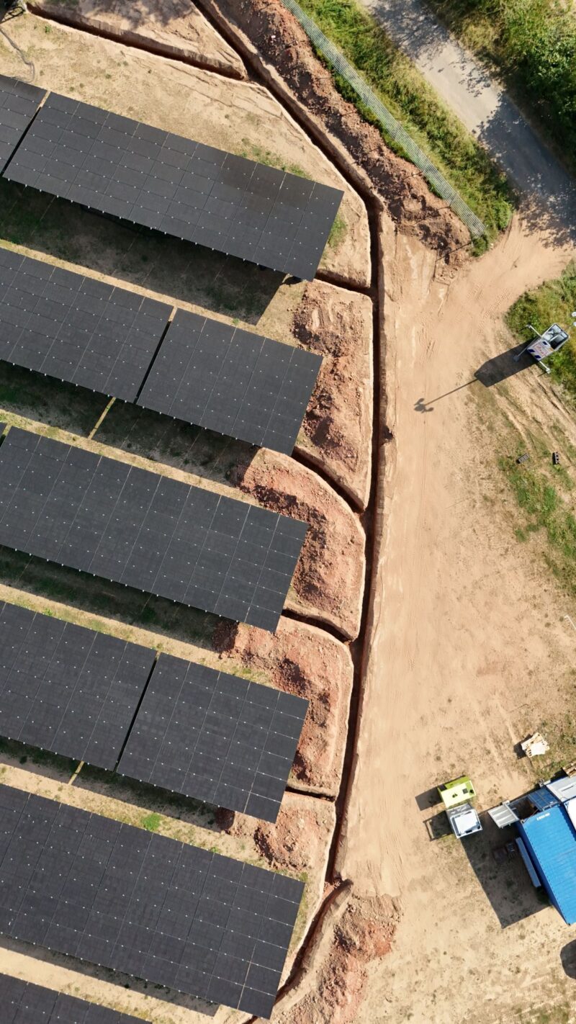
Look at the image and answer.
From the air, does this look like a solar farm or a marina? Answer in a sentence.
What you see here is a solar farm.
